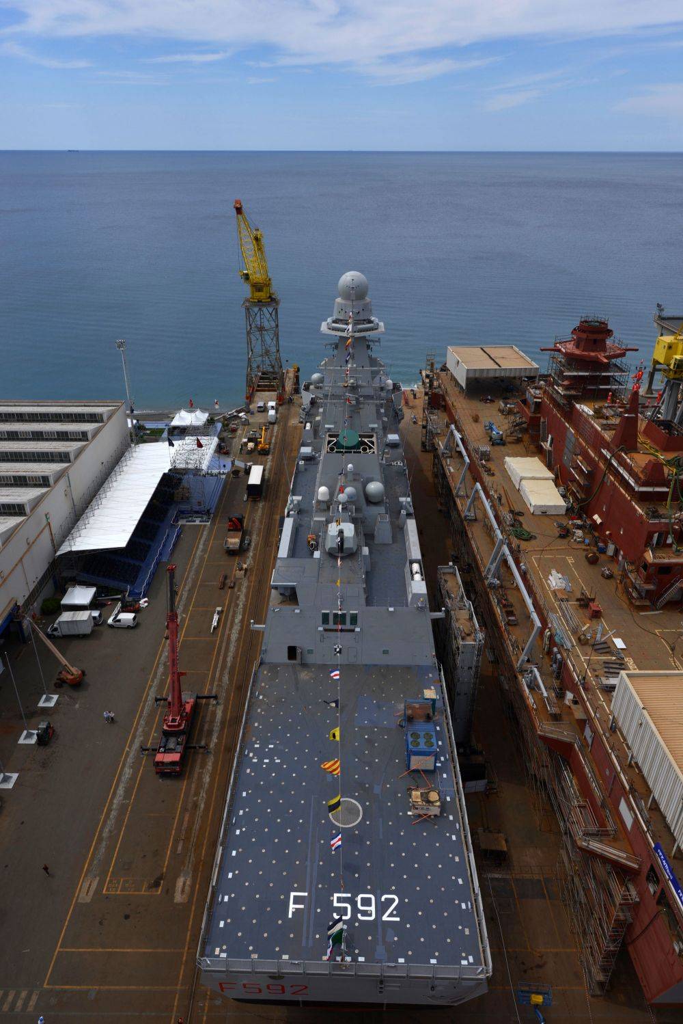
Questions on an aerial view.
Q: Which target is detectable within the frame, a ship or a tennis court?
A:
ship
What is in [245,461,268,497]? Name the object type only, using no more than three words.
trailer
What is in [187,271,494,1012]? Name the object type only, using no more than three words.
ship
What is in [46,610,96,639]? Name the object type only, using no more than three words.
truck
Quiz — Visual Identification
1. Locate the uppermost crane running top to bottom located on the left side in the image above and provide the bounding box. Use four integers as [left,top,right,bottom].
[229,196,289,409]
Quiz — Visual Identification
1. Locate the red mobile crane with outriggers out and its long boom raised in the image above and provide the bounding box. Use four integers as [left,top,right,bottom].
[141,559,222,778]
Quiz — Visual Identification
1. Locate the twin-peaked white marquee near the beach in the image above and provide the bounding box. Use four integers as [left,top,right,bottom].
[170,407,209,436]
